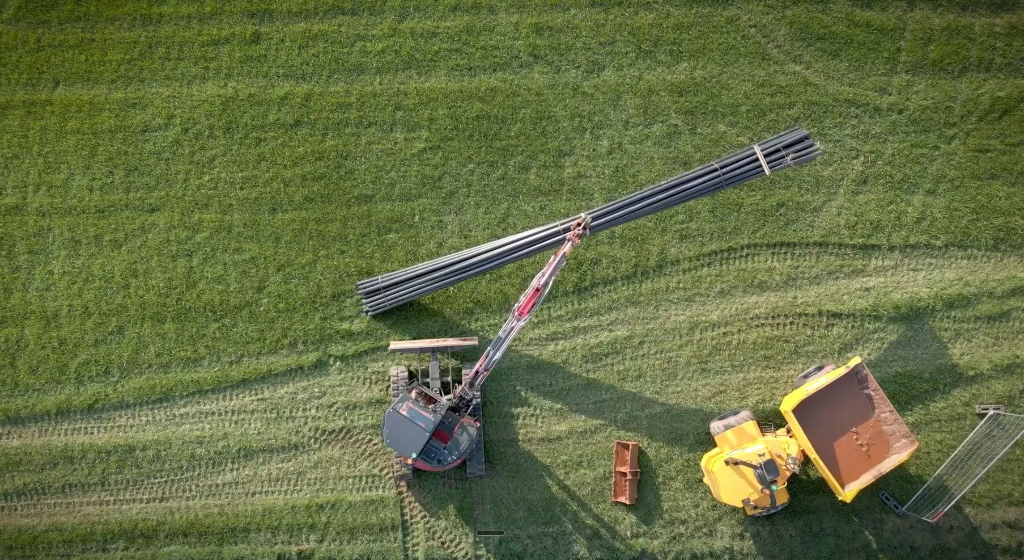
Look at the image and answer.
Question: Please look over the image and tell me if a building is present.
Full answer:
No, no building is visible in the view.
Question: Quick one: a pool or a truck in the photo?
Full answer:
This aerial view contains a truck.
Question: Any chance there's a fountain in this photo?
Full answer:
No, I can see no fountain in this picture.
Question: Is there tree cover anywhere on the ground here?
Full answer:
No, there's no tree cover in this view.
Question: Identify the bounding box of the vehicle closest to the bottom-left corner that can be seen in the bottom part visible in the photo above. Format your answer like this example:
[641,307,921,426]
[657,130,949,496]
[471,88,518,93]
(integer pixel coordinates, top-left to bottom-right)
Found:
[382,209,593,481]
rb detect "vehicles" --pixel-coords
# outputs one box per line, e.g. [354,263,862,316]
[698,356,918,514]
[382,209,593,481]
